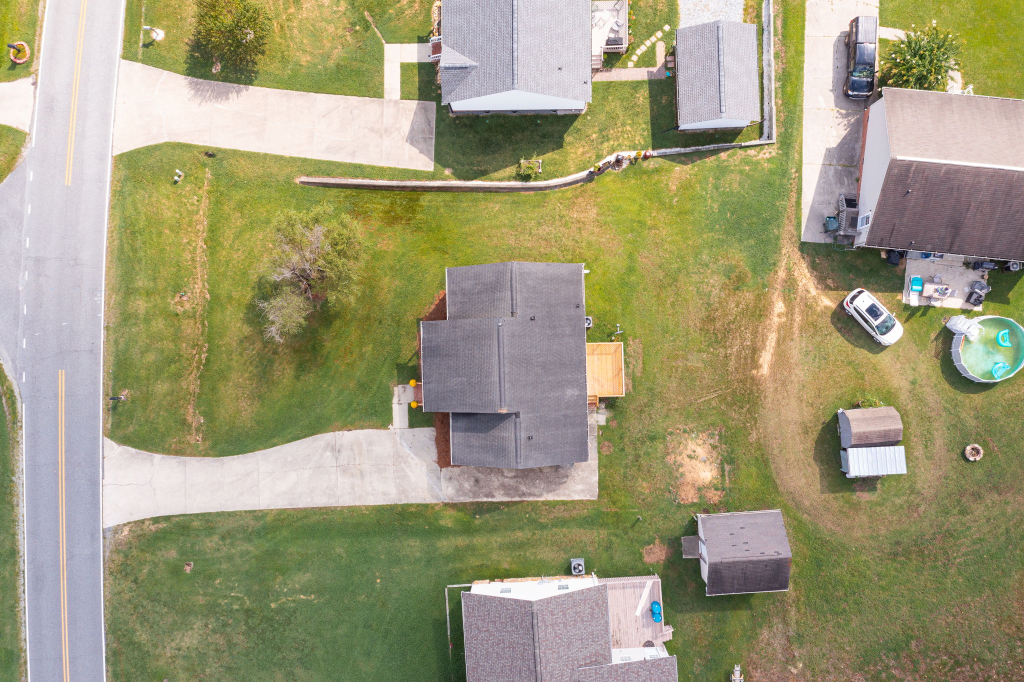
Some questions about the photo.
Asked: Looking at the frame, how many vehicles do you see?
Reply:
two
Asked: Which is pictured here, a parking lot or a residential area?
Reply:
residential area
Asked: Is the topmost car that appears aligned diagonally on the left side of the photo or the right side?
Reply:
right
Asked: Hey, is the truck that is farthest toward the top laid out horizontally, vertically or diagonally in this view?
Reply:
vertically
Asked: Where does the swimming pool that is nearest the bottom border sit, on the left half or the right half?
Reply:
right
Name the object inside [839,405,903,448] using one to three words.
shed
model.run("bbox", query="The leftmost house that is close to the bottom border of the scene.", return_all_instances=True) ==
[460,576,678,682]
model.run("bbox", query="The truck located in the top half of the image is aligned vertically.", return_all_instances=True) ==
[841,17,878,101]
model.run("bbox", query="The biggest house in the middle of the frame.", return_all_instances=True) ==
[416,262,591,468]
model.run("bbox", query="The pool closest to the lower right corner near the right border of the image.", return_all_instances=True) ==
[948,315,1024,382]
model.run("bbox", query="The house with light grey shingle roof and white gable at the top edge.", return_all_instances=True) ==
[427,0,593,117]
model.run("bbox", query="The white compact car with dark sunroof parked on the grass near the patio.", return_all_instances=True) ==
[844,291,900,344]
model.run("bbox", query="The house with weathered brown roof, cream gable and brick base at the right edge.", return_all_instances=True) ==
[854,84,1024,263]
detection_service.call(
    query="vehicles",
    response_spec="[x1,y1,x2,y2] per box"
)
[841,17,878,101]
[844,291,900,344]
